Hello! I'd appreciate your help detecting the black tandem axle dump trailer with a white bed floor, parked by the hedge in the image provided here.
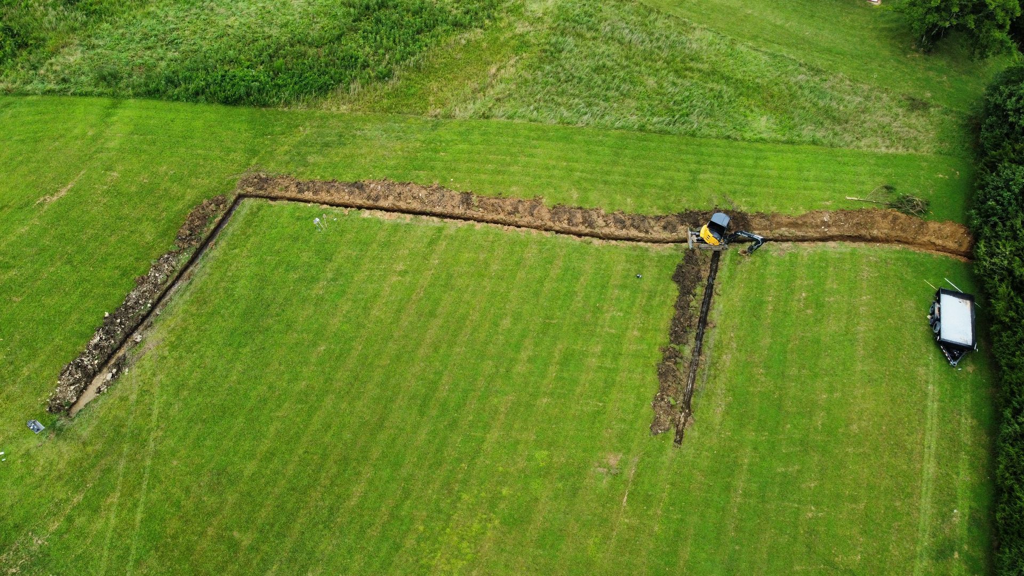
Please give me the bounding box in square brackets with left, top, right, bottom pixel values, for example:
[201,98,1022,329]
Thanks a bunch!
[926,288,978,368]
